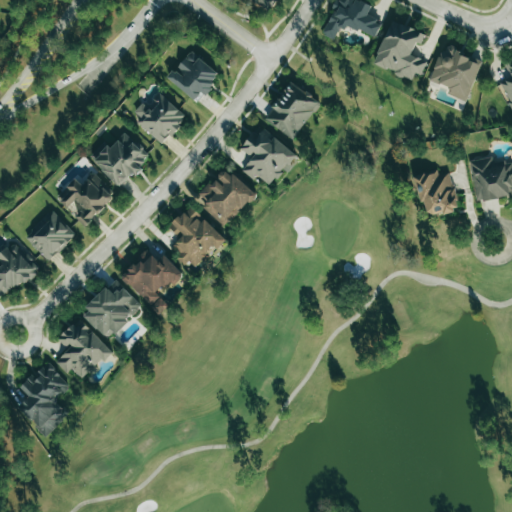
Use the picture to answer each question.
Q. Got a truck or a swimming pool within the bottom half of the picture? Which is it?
swimming pool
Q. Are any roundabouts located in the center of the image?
No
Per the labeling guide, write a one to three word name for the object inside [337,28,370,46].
swimming pool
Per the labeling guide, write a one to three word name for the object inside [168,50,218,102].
house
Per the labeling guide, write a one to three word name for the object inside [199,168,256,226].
house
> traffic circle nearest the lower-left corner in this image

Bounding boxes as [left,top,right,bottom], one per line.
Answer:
[0,308,42,358]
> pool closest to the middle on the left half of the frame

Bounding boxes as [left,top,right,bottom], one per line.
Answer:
[163,282,182,300]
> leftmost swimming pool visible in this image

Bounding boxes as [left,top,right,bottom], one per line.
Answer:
[56,156,99,194]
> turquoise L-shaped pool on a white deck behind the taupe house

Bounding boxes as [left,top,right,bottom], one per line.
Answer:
[430,80,467,110]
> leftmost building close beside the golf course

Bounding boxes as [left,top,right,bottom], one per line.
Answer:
[19,364,68,434]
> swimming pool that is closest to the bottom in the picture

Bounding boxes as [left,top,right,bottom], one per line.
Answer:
[92,354,118,386]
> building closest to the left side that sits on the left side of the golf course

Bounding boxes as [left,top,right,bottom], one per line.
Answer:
[0,241,38,291]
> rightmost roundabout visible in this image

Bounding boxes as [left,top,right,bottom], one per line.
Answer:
[470,219,512,264]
